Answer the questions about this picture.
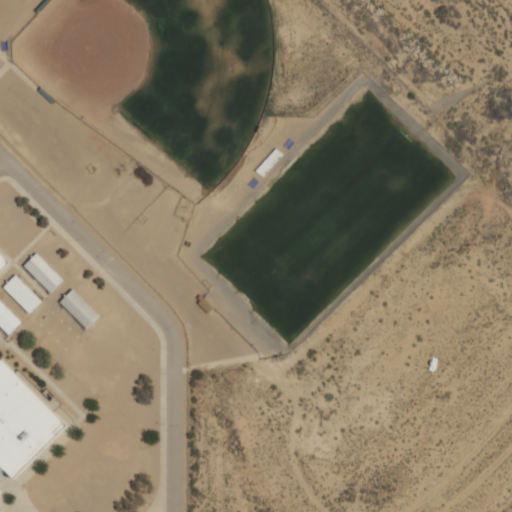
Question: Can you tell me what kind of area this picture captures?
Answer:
sports ground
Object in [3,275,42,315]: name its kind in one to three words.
building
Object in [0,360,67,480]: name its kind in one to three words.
building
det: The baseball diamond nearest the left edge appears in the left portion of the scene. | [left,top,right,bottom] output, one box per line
[12,0,272,204]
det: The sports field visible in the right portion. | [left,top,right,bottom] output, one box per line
[201,90,458,348]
